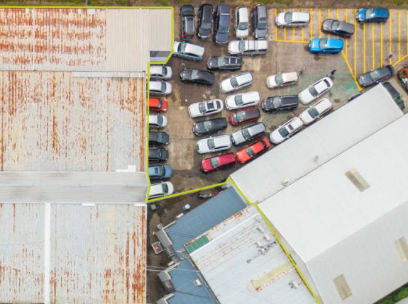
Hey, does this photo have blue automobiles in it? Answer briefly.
Yes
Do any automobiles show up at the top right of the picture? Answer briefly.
Yes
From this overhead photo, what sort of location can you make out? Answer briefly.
industrial area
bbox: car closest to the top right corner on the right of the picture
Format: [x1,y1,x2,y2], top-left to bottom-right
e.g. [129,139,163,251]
[353,7,390,25]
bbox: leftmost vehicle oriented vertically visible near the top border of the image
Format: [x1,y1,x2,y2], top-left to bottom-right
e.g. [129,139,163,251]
[177,3,195,41]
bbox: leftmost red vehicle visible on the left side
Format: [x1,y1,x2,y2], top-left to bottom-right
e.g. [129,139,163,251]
[149,96,166,113]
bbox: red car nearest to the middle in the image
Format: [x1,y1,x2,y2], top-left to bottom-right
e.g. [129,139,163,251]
[201,153,235,172]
